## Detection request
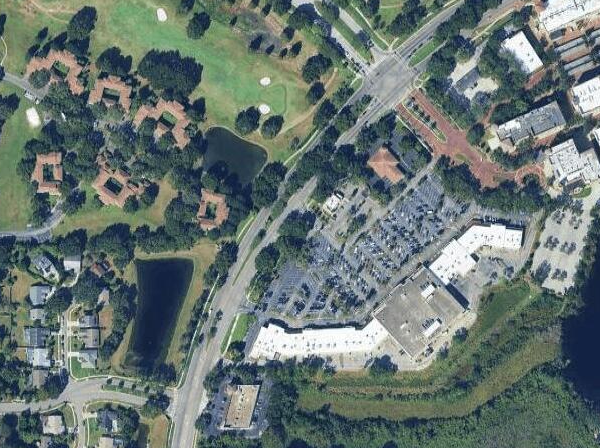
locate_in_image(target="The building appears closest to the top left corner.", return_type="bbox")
[25,46,88,90]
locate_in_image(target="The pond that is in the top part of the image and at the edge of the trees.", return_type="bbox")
[204,127,267,189]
